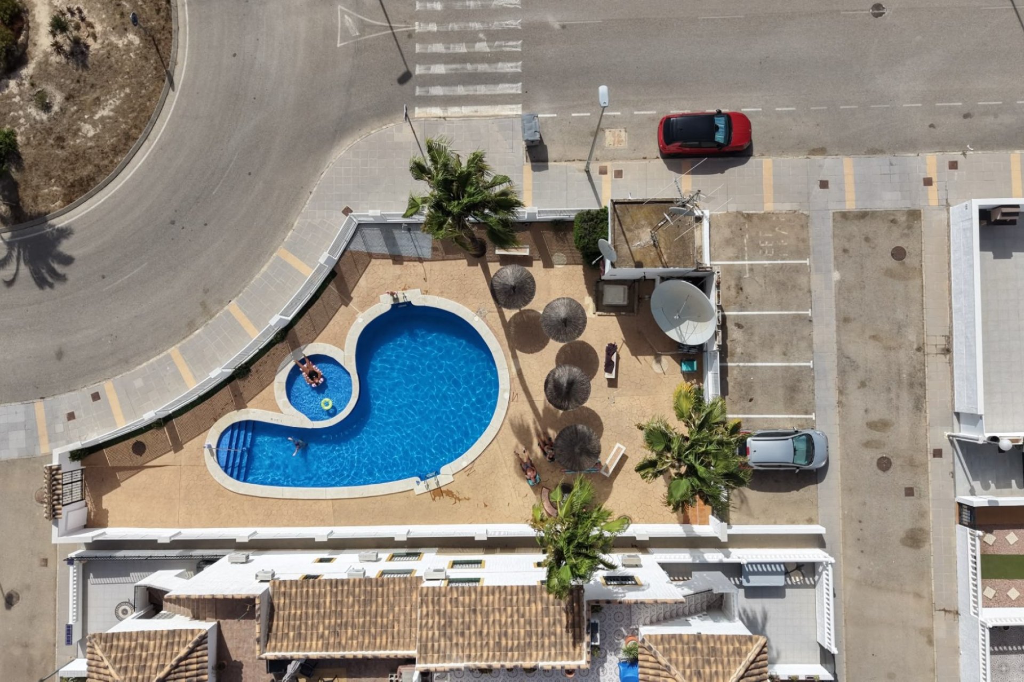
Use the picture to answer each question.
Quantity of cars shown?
two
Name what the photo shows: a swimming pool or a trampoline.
swimming pool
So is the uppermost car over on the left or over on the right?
right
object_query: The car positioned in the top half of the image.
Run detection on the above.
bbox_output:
[658,105,752,155]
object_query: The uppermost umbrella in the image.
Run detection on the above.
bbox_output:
[489,263,537,313]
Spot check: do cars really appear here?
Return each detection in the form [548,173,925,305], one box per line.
[740,429,832,476]
[658,105,752,155]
